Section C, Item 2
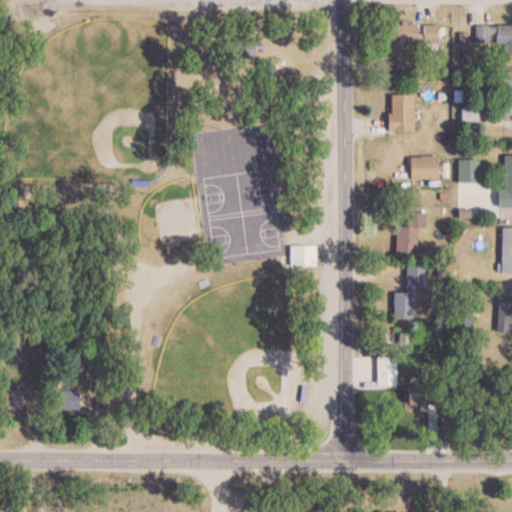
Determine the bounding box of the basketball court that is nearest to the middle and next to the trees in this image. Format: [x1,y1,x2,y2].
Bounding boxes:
[210,214,280,256]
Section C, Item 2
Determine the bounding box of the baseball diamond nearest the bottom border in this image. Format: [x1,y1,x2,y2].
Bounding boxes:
[154,275,303,430]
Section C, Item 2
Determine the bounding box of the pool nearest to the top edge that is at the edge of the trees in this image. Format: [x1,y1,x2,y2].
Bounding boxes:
[422,87,436,102]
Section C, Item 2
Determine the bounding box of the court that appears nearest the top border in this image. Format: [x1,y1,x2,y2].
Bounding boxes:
[204,169,276,216]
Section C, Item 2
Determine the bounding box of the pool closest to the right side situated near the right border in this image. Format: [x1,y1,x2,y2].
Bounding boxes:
[474,234,488,253]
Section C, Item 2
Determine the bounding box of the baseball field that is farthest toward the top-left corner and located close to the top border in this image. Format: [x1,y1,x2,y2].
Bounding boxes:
[5,20,168,180]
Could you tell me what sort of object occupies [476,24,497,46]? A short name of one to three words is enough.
house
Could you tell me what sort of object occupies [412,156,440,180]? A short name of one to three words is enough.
house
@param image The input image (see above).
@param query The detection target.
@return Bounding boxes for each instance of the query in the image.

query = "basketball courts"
[210,214,280,256]
[204,169,276,216]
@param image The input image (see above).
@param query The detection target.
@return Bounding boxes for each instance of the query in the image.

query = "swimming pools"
[474,234,488,253]
[422,87,436,102]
